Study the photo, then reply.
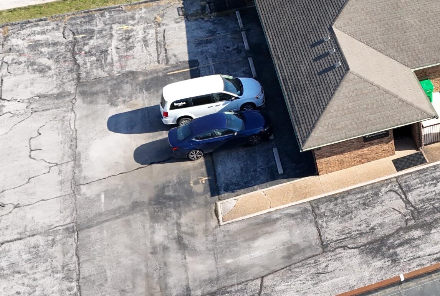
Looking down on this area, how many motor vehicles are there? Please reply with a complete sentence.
I count 2 motor vehicles.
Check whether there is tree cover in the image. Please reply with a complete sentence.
No, there is no tree cover in the image.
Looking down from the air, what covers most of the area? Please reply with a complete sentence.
Most of the picture is covered by paved ground.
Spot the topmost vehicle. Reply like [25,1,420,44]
[154,69,267,125]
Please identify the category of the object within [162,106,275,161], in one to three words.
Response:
car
